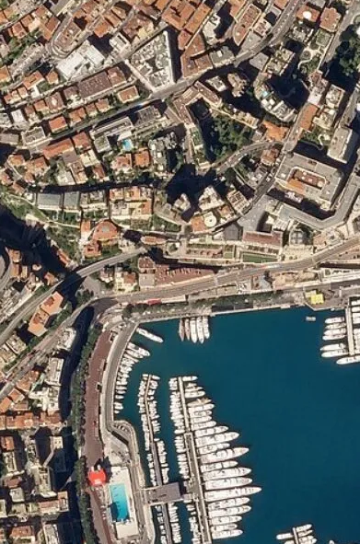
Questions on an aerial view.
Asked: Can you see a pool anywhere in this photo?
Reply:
Yes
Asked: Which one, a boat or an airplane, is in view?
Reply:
boat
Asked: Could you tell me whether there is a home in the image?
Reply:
Yes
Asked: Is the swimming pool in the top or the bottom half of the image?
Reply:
bottom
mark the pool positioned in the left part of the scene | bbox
[107,467,138,539]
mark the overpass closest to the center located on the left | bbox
[0,245,150,339]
